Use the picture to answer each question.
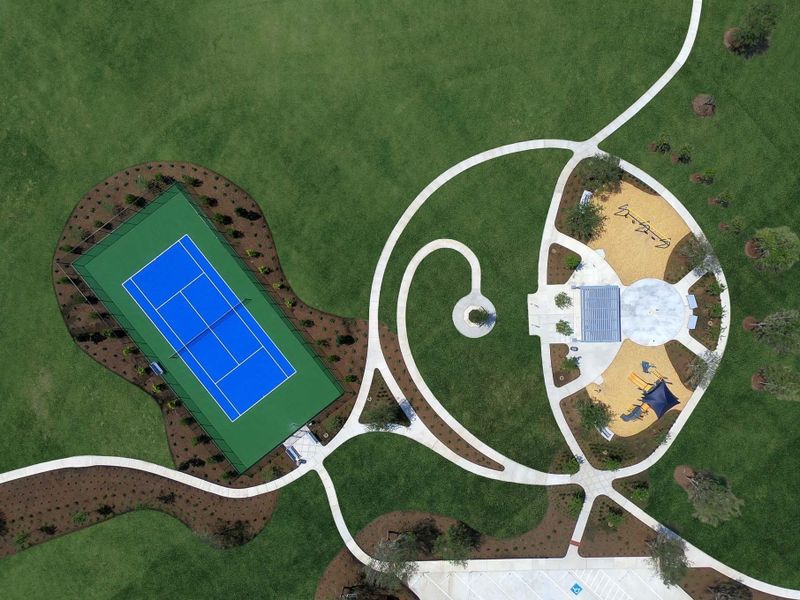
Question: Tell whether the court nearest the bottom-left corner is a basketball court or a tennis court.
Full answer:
It turns out the court nearest the bottom-left corner is a tennis court.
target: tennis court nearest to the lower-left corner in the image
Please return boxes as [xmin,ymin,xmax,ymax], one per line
[73,181,345,475]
